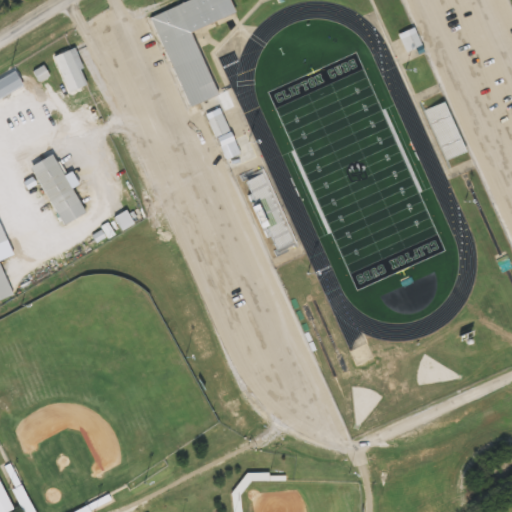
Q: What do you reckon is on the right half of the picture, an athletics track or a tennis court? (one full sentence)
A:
It is an athletics track that can be seen on the right half of the picture.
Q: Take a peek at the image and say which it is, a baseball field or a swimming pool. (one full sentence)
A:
The one in the frame is a baseball field.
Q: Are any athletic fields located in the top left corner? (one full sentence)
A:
No, I can find no athletic field in the top left corner.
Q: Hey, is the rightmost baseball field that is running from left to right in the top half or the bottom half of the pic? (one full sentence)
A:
Seen from above, the rightmost baseball field that is running from left to right lies in the bottom half of the view.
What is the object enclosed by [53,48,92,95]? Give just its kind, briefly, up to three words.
barn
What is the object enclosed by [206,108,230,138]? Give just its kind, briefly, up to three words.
building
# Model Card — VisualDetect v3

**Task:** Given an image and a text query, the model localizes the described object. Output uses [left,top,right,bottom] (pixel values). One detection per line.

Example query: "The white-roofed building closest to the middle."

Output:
[218,132,240,164]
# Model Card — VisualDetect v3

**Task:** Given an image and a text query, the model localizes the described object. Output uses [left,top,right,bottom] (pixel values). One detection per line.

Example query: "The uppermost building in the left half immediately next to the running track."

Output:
[150,0,236,106]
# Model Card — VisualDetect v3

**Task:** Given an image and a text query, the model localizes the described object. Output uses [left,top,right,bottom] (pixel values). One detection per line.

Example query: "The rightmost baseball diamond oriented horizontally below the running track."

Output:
[244,482,362,512]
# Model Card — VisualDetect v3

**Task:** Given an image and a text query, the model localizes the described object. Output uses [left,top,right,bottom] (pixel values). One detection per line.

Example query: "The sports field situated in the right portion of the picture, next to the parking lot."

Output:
[254,18,460,324]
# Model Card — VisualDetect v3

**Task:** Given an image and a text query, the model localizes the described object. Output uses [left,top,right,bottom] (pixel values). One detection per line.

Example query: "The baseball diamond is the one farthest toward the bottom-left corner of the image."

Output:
[0,272,220,512]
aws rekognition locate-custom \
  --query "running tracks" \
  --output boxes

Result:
[219,0,478,348]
